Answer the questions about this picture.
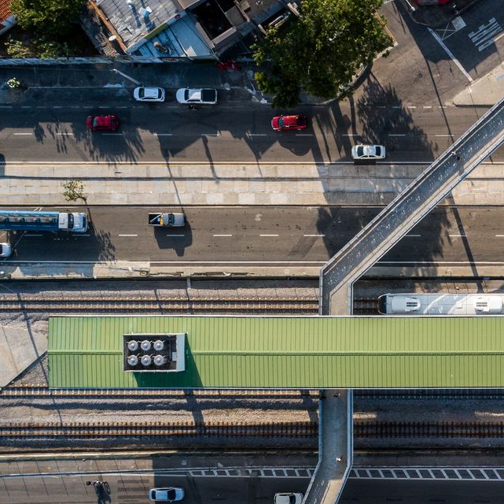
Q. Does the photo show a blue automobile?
Yes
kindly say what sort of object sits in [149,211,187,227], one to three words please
vehicle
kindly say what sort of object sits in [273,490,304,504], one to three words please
vehicle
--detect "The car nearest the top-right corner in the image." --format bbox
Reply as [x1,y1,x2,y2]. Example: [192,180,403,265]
[352,143,386,160]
